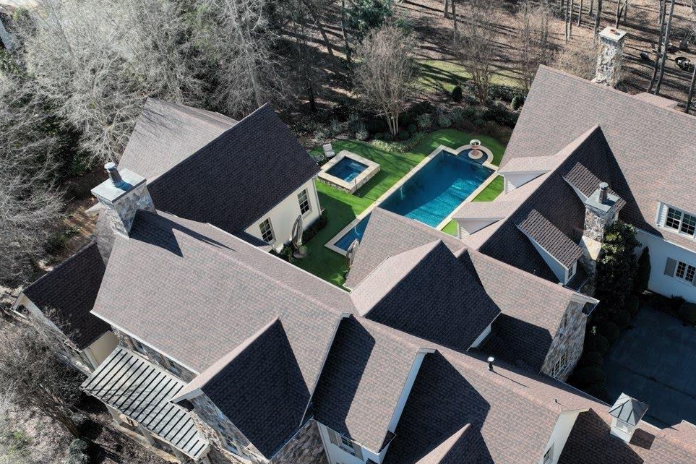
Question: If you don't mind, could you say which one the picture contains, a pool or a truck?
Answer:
pool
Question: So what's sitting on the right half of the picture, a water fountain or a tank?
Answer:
water fountain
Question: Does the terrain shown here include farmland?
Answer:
No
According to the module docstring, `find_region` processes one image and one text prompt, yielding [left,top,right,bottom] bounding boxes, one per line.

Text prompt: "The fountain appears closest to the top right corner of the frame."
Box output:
[455,139,497,166]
